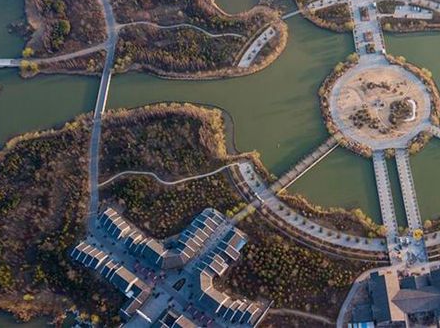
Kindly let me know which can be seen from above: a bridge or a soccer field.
bridge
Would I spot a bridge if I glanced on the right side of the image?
Yes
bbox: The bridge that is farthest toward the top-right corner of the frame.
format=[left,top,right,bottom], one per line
[352,18,387,65]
